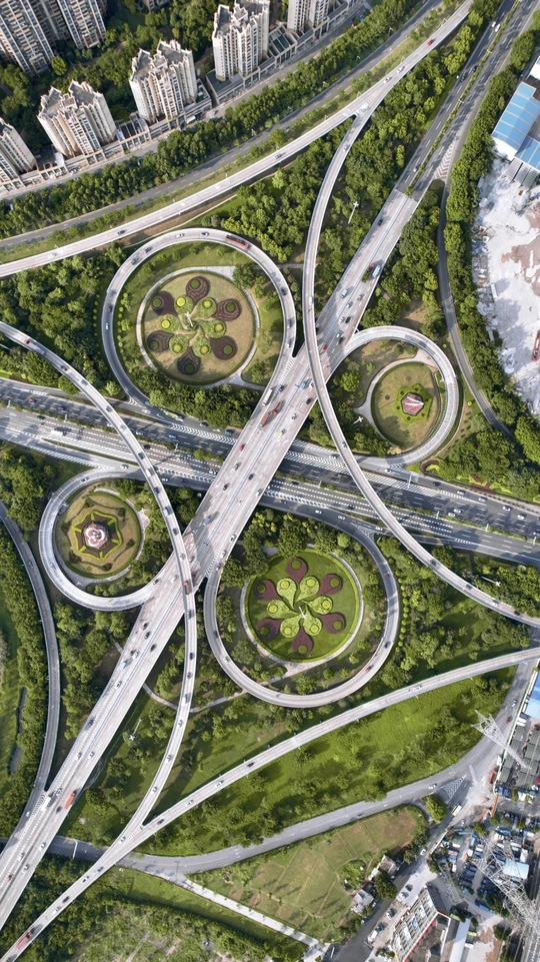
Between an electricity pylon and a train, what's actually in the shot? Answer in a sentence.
There is an electricity pylon in the scene.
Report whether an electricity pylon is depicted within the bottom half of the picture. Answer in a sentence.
Yes, an electricity pylon shows up within the bottom half of the picture.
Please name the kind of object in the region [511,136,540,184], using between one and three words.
building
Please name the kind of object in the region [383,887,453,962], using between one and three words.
building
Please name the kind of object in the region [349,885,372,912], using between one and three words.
house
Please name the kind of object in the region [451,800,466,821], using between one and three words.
vehicle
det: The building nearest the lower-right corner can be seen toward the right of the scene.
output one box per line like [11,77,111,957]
[441,914,471,962]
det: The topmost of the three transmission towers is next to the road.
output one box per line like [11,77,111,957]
[469,709,528,770]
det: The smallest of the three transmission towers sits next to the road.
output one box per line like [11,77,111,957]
[424,850,458,906]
